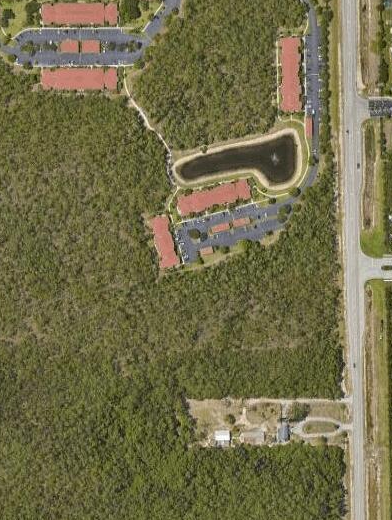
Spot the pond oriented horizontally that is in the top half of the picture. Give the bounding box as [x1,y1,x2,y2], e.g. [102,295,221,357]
[180,135,297,186]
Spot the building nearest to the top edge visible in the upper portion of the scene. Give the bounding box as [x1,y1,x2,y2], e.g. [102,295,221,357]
[41,0,116,25]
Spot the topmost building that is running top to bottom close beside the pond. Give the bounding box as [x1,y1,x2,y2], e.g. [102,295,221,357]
[279,36,302,110]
